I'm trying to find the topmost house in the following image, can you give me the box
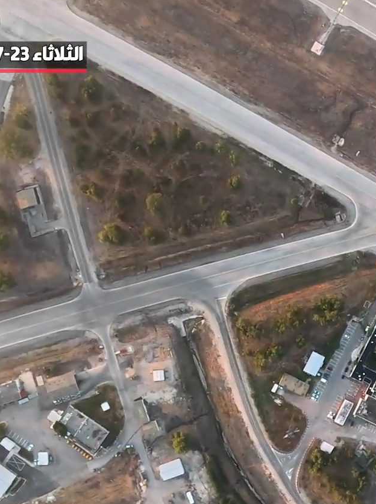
[16,186,38,210]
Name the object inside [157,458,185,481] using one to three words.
barn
